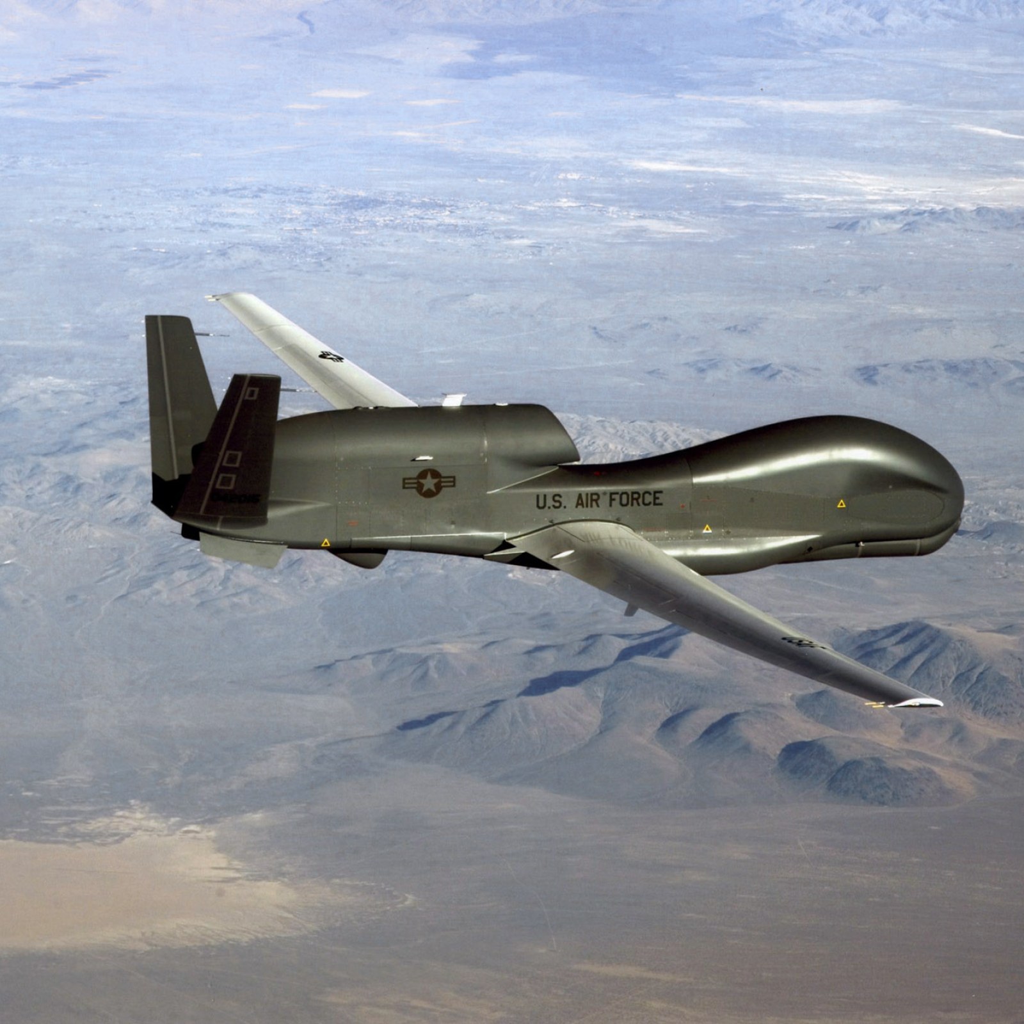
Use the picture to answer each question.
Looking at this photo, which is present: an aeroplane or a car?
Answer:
aeroplane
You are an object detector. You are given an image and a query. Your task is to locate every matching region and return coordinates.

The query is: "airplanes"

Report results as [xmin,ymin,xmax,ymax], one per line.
[141,292,964,709]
